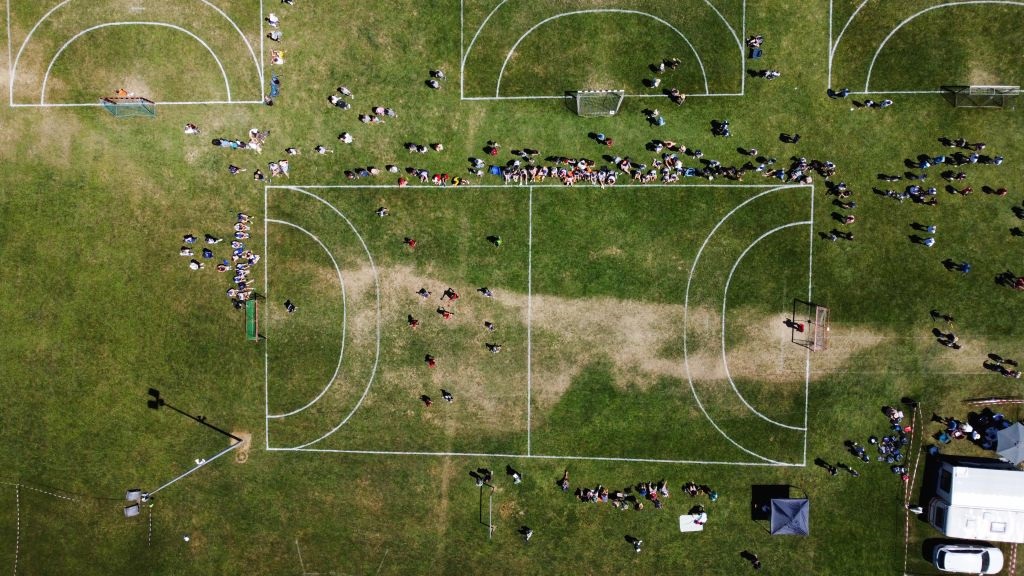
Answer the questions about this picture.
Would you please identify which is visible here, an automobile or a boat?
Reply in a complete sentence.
Visible in the photo is an automobile.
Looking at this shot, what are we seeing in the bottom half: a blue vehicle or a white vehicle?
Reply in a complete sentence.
What appears in the bottom half is a white vehicle.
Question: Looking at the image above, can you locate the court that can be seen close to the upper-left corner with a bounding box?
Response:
[6,0,264,106]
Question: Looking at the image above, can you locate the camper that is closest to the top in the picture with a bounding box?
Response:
[933,461,1024,507]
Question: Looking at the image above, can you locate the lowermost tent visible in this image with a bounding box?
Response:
[761,491,810,536]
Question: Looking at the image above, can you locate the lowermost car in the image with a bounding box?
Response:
[935,540,1003,575]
